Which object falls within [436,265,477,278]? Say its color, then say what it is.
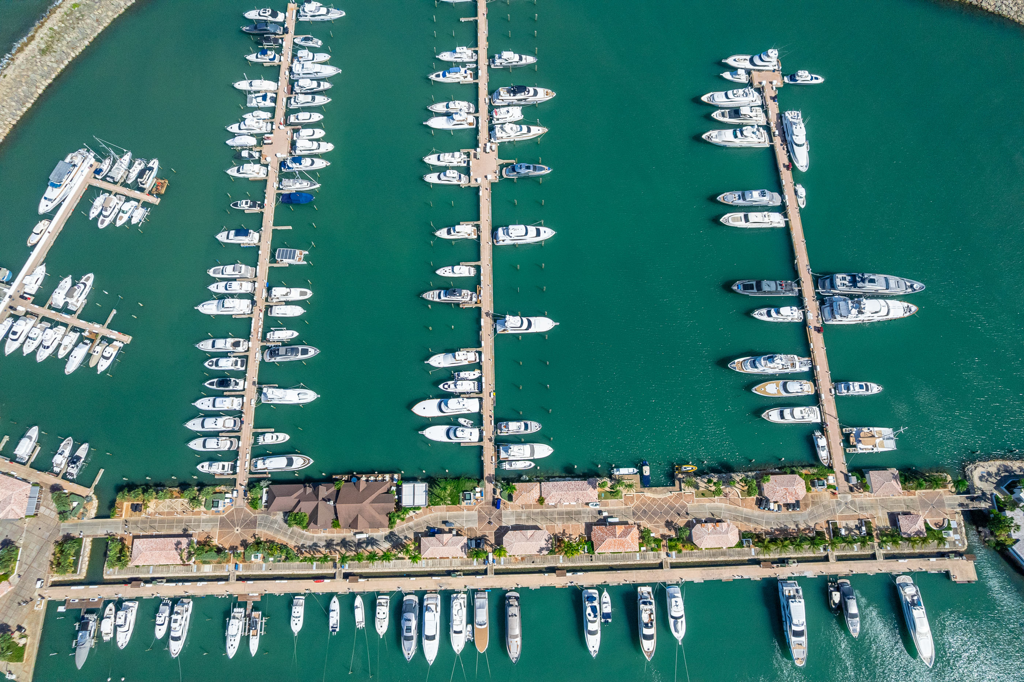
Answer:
white boat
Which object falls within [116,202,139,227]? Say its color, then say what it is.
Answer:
white boat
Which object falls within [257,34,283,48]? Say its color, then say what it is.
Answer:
black boat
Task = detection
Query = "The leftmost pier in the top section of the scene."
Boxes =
[0,157,161,354]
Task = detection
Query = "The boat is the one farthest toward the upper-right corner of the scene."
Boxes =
[784,73,824,85]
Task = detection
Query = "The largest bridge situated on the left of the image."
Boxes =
[59,519,112,535]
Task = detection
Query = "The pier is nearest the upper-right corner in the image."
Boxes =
[750,69,847,469]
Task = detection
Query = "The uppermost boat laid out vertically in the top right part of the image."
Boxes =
[787,109,810,172]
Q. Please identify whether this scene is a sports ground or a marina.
marina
